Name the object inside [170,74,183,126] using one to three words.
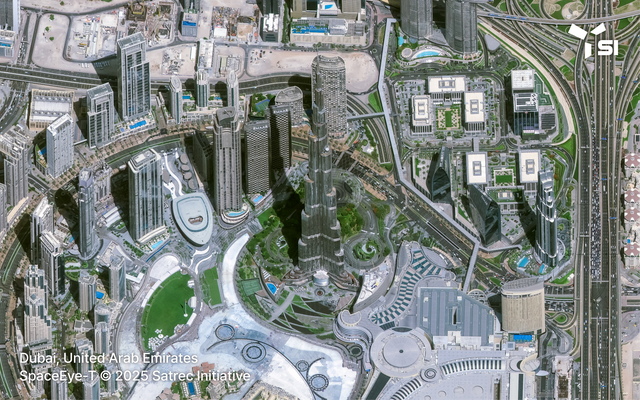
building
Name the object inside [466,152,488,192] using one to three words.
building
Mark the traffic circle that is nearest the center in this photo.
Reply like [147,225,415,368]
[348,232,391,266]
